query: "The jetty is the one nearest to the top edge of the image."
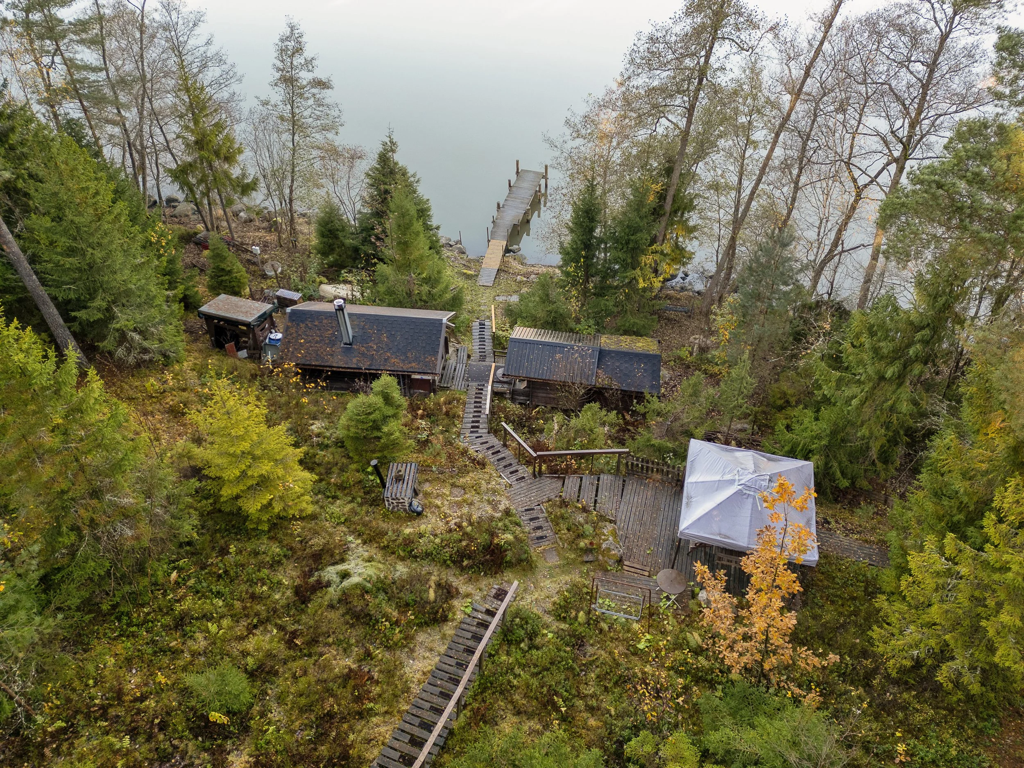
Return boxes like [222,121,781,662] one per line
[491,158,550,242]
